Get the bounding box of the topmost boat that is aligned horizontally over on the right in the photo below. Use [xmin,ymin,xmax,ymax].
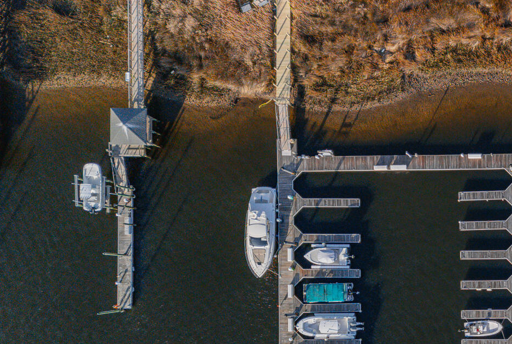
[303,248,359,265]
